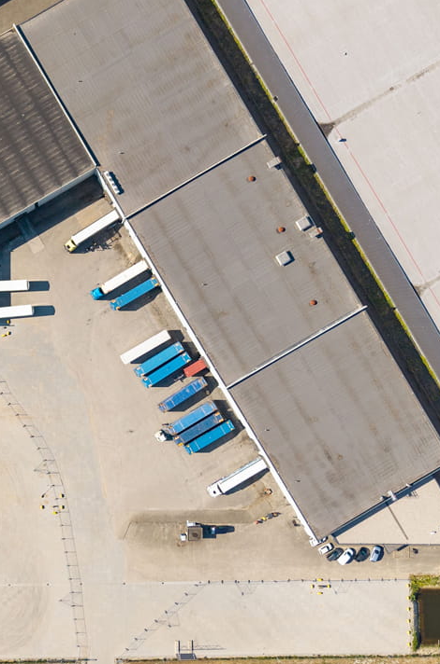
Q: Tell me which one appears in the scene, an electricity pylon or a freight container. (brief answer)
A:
freight container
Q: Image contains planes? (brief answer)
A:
No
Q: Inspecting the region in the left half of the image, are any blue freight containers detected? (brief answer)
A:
Yes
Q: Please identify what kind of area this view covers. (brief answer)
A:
industrial area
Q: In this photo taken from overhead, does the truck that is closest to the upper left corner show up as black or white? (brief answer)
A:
white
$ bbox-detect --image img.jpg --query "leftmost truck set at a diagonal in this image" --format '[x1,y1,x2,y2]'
[61,209,119,253]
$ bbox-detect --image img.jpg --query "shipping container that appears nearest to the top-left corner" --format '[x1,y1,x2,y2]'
[111,277,158,310]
